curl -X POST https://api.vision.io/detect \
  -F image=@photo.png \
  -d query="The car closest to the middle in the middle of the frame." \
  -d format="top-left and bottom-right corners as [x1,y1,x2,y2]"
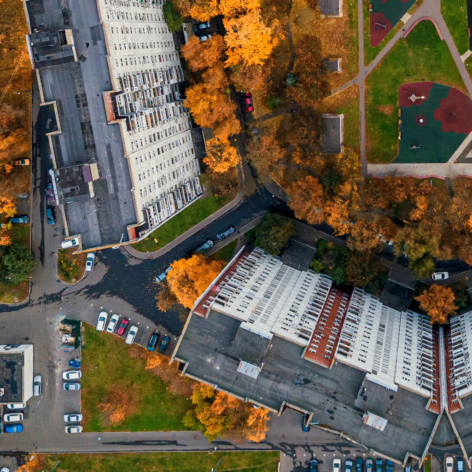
[214,226,237,241]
